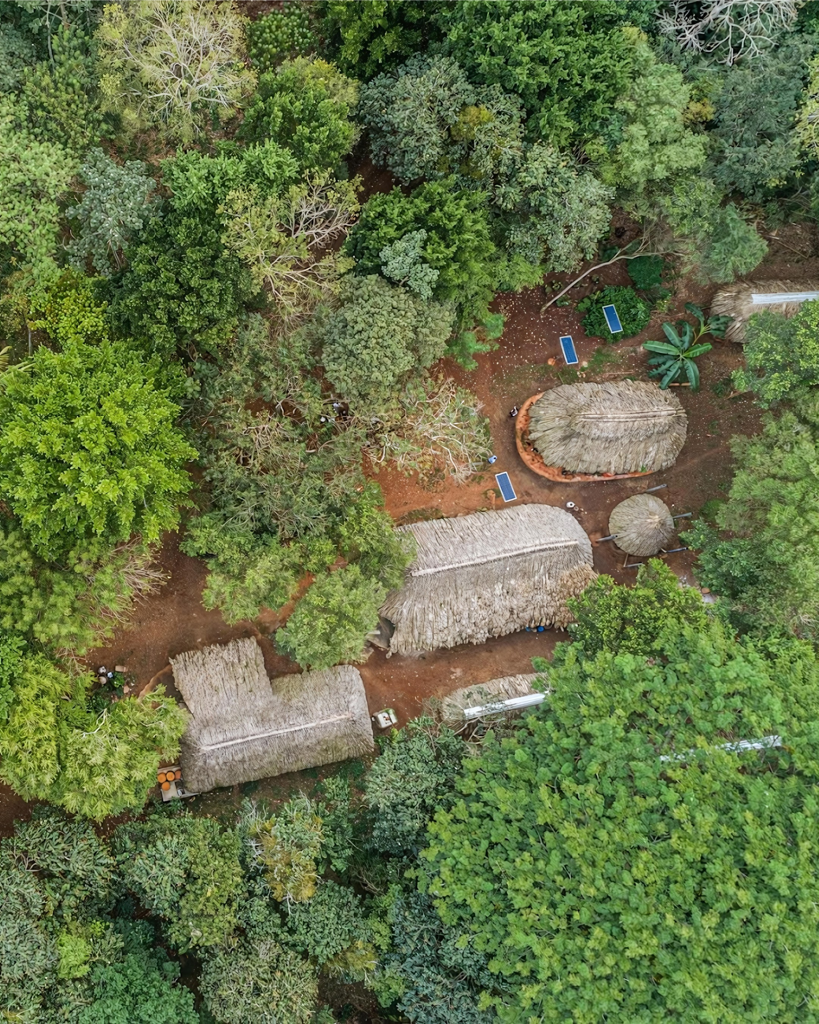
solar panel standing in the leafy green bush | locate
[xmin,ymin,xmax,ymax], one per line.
[602,305,623,336]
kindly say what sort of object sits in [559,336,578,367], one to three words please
solar panel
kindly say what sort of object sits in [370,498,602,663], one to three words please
shed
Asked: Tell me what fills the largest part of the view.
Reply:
trees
